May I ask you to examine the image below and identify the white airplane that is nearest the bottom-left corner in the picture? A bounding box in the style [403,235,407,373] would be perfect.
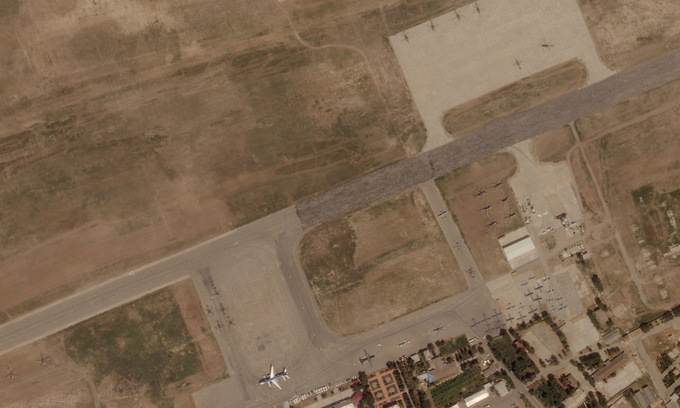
[260,367,289,391]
